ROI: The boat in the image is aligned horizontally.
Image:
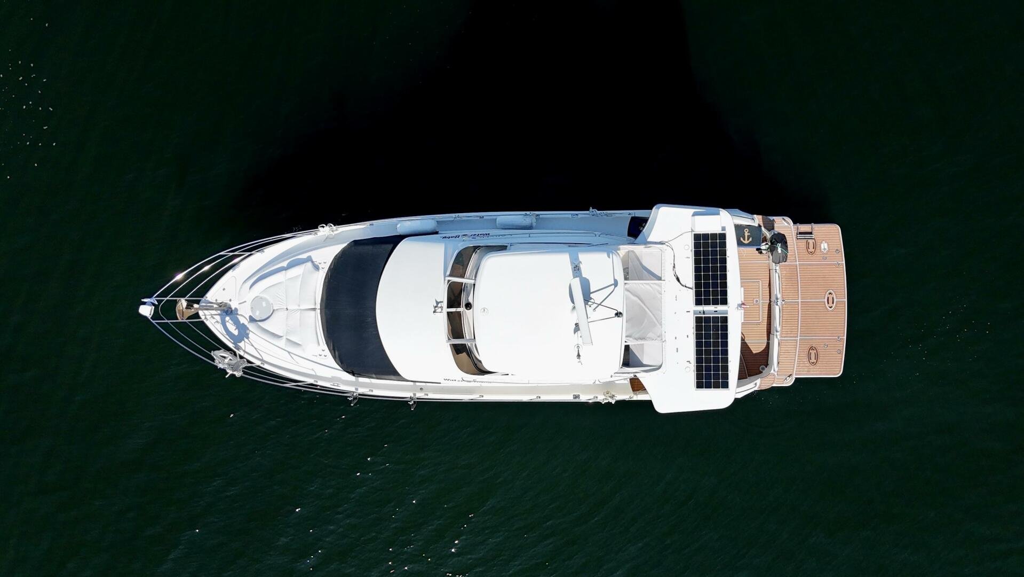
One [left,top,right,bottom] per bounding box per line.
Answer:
[139,205,846,412]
